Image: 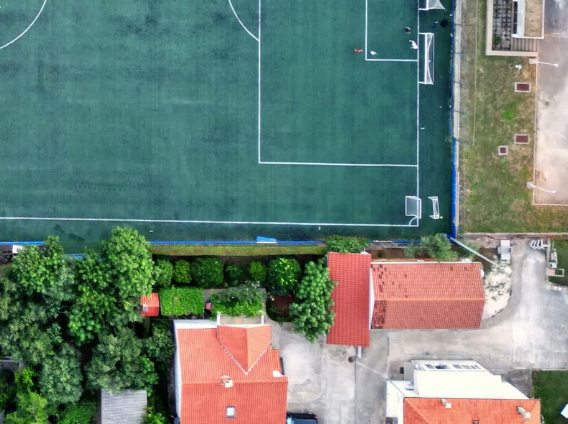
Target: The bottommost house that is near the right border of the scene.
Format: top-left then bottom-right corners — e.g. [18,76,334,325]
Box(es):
[394,357,541,424]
